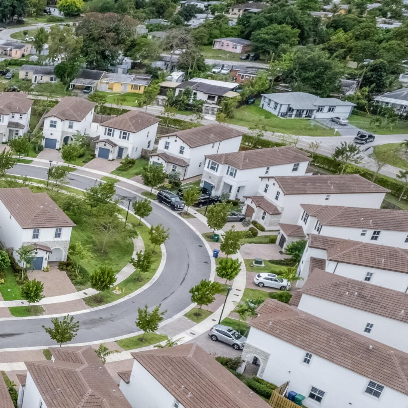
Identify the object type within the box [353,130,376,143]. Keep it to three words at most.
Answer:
vehicle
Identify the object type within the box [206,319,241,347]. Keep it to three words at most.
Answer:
car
